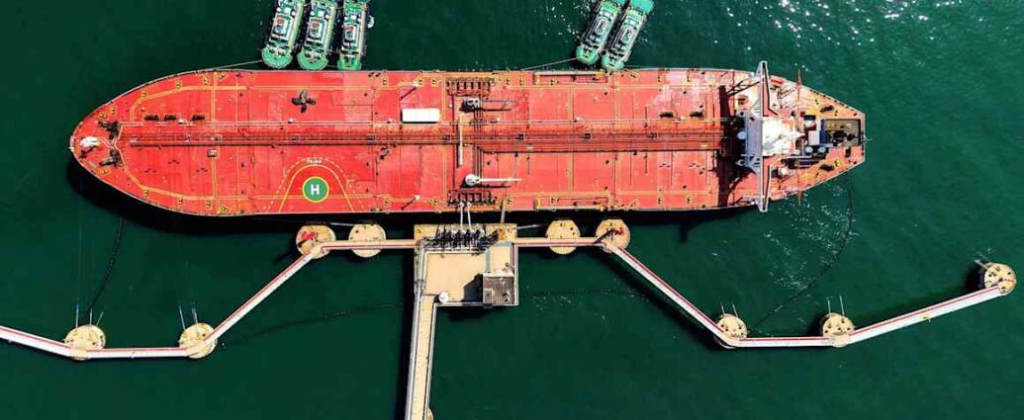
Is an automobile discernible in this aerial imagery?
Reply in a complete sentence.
No, I find no automobile anywhere in the image.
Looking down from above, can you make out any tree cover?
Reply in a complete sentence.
No, there's no tree cover in this view.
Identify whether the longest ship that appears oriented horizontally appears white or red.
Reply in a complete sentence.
In this view, the longest ship that appears oriented horizontally is red.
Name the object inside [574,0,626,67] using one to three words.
boat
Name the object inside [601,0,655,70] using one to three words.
boat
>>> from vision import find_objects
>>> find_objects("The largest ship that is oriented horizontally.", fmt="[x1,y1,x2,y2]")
[66,61,875,216]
